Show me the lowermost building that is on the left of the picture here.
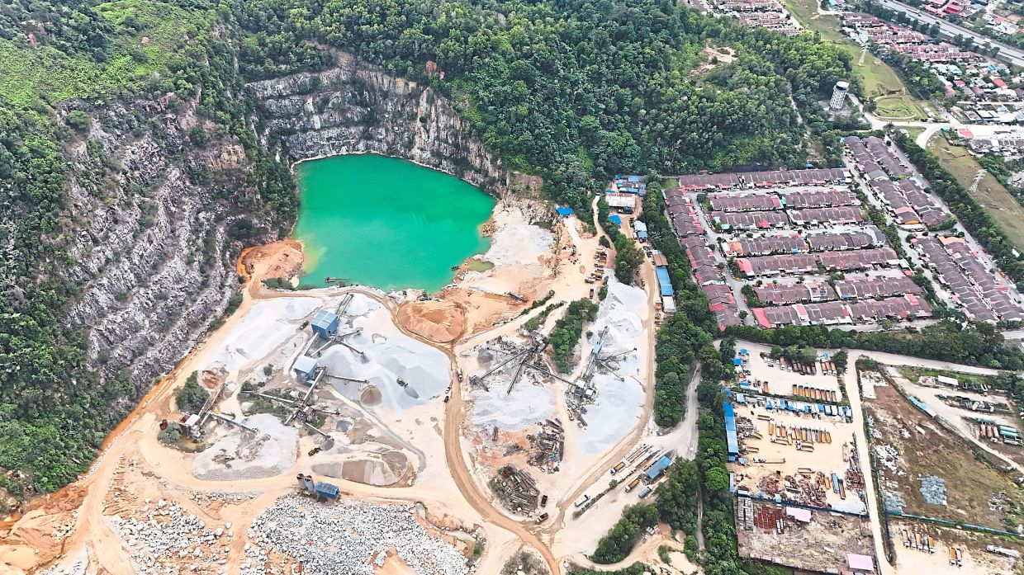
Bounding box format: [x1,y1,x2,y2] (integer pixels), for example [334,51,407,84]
[312,484,338,503]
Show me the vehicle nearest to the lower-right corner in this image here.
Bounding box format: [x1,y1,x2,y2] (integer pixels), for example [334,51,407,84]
[985,545,1017,557]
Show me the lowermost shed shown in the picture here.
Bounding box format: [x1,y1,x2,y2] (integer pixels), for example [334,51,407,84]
[843,554,874,573]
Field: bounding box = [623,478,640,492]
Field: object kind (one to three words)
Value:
vehicle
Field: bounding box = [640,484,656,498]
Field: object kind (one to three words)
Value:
vehicle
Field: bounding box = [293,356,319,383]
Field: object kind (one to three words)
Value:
house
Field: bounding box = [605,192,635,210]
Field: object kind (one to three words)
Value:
shed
